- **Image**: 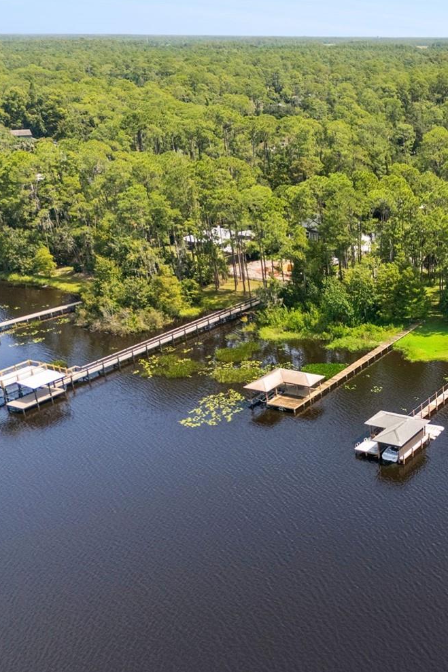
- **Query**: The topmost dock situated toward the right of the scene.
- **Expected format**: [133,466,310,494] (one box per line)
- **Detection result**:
[315,324,423,392]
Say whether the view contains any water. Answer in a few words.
Yes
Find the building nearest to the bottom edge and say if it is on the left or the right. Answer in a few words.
right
